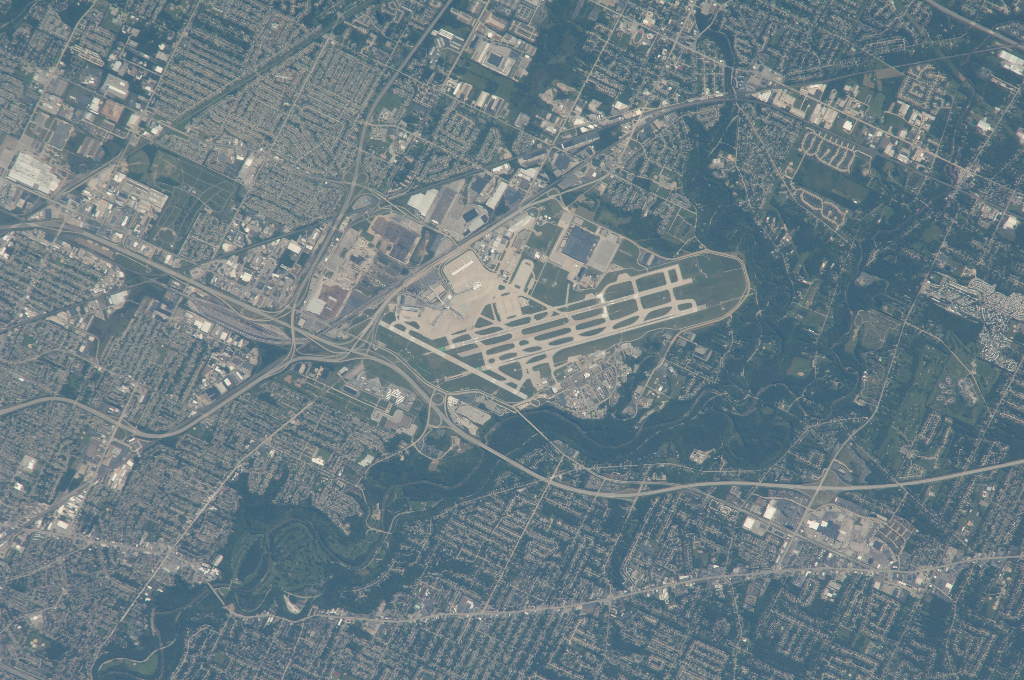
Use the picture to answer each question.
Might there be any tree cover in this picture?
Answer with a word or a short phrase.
Yes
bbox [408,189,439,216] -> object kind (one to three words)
building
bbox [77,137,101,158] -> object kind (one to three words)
building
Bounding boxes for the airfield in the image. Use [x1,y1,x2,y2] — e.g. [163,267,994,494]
[377,227,754,395]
